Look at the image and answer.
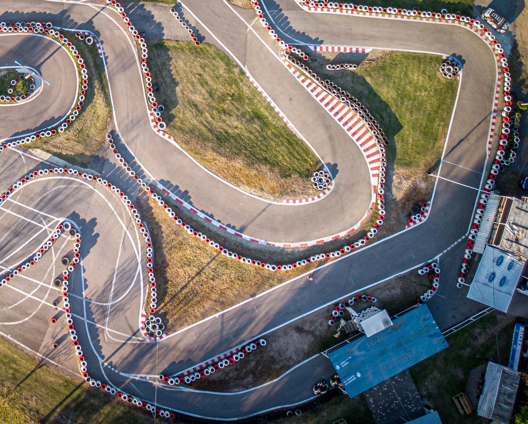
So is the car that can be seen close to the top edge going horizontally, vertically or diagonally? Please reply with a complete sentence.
The car that can be seen close to the top edge is laid out diagonally.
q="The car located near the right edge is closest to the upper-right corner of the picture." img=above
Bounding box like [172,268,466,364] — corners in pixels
[476,6,509,33]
